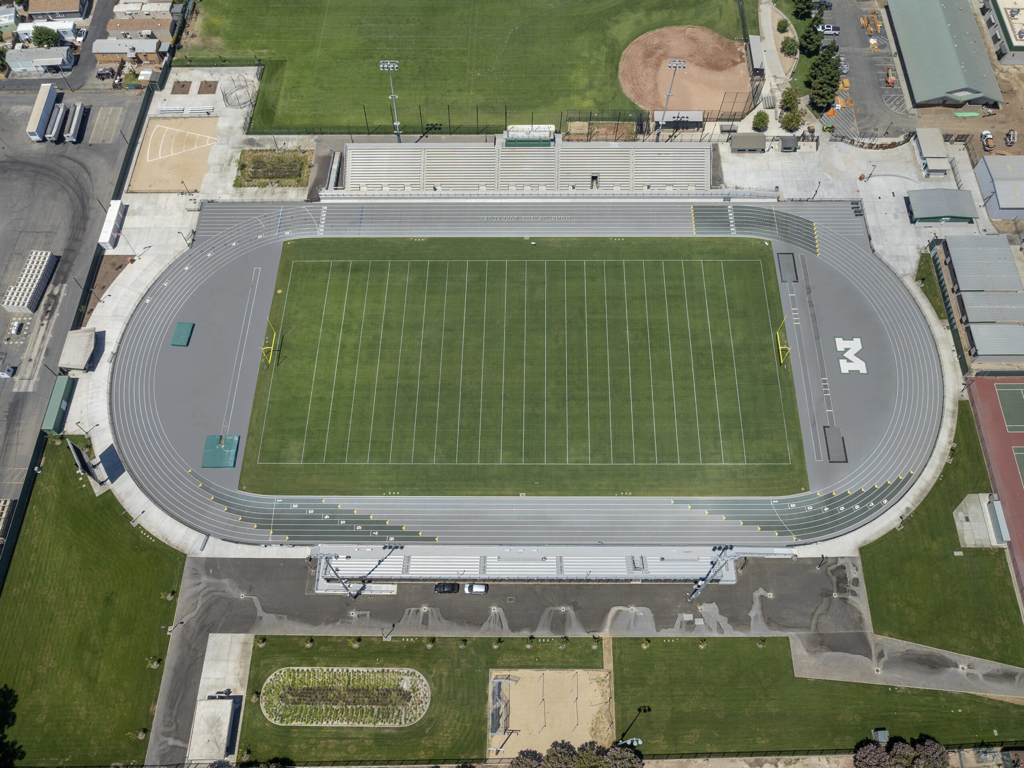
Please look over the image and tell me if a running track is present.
Yes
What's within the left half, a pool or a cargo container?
cargo container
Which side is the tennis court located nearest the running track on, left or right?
right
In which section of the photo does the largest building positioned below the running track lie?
bottom left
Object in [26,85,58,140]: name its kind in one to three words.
trailer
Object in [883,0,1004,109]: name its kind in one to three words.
building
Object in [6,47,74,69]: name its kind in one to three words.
house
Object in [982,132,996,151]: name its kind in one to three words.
vehicle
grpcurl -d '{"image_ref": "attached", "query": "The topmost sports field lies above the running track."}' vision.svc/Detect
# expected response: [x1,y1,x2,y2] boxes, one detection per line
[170,0,760,136]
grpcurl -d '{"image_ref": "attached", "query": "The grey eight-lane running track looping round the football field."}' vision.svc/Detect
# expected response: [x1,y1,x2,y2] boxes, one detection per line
[109,200,944,546]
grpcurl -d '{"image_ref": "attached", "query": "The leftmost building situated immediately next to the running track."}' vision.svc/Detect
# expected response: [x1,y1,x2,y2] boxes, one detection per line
[54,328,99,372]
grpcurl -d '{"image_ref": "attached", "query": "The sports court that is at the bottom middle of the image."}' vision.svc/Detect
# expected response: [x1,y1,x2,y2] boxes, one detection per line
[487,669,616,764]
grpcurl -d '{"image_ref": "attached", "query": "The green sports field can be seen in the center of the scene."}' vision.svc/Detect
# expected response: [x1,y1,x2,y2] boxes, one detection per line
[237,237,810,496]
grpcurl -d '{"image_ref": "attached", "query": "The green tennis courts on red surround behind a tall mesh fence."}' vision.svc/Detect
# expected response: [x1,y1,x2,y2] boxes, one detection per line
[969,376,1024,607]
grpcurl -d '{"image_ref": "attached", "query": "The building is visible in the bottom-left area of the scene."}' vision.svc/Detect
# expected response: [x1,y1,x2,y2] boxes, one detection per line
[188,694,235,760]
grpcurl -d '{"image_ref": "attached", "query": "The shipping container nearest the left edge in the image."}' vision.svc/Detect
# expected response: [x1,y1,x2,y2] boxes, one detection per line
[41,375,76,435]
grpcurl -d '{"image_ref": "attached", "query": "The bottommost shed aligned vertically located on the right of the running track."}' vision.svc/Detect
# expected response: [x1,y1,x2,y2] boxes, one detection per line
[988,501,1011,544]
